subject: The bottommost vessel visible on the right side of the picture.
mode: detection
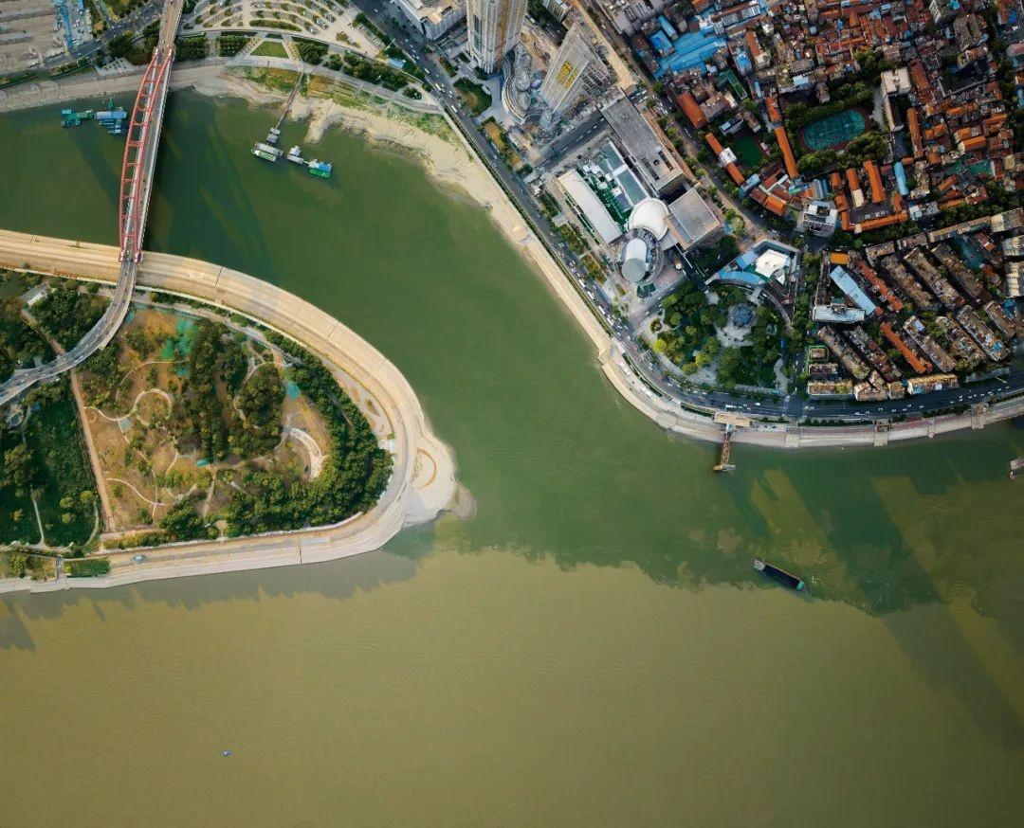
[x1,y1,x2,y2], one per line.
[754,559,802,590]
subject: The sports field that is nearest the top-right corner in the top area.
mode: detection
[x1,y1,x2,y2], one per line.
[803,109,866,150]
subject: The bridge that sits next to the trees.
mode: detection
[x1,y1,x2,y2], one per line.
[0,0,185,407]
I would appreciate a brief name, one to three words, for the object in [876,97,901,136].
house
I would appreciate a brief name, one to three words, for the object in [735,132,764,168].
sports field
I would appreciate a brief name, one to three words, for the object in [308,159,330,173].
boat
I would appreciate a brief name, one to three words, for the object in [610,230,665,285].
building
